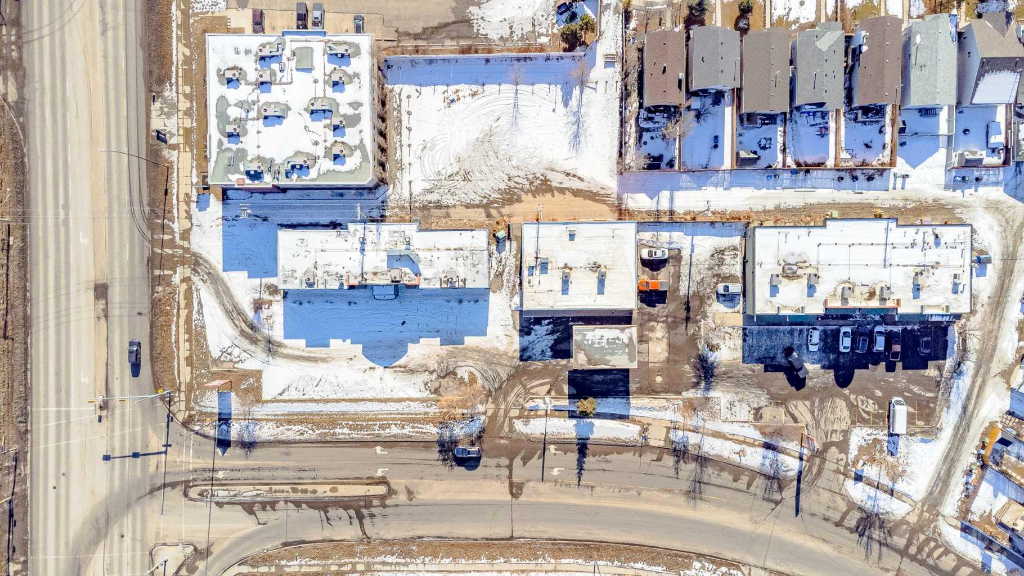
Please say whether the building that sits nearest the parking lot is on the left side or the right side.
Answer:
left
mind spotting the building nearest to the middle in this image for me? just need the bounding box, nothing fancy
[522,221,637,317]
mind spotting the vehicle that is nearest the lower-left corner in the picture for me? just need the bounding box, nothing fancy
[126,338,142,366]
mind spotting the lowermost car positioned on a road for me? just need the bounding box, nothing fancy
[455,445,482,459]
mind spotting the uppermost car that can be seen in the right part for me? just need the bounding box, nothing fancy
[639,247,668,259]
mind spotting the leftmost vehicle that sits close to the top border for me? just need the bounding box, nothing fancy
[252,8,267,33]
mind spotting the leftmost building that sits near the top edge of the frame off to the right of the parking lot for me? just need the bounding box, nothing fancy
[641,28,686,118]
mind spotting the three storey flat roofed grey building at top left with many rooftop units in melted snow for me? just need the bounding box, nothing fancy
[206,29,383,197]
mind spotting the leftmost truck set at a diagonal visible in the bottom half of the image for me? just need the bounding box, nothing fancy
[783,347,809,381]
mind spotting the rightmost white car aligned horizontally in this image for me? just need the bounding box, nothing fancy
[716,282,744,295]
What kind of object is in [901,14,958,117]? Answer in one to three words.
house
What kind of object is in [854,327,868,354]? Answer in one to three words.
car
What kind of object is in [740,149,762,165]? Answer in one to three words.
shed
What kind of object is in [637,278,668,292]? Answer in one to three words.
vehicle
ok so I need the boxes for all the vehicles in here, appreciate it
[783,347,809,381]
[871,325,886,353]
[837,325,852,353]
[455,445,482,459]
[295,0,309,29]
[887,328,903,360]
[637,278,668,292]
[252,8,267,33]
[311,0,325,29]
[806,326,821,350]
[352,12,365,33]
[854,327,868,354]
[716,282,744,295]
[126,338,142,366]
[639,247,668,259]
[884,392,905,433]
